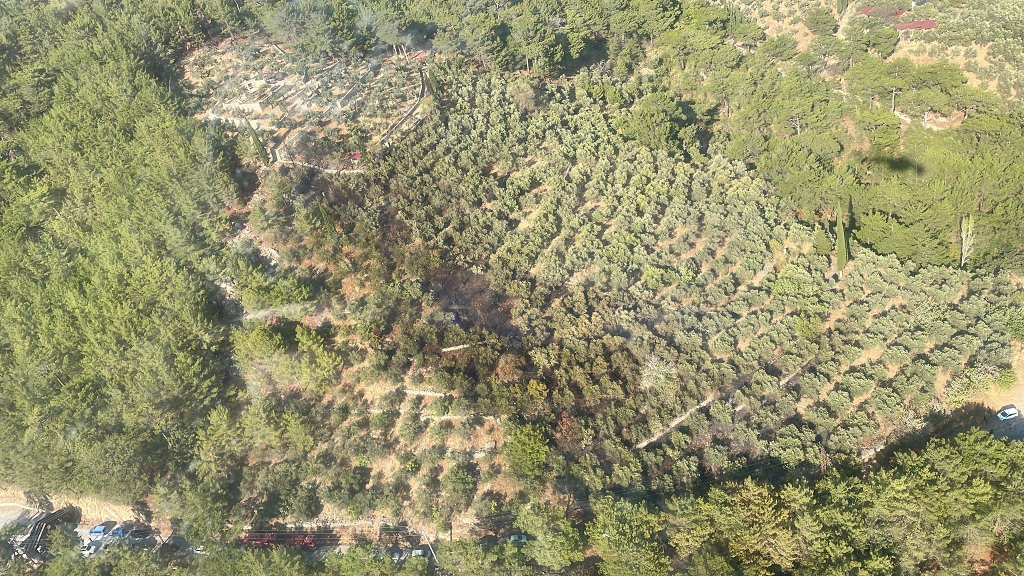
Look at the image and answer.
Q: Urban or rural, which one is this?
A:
rural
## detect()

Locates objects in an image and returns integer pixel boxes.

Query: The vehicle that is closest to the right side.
[995,407,1021,422]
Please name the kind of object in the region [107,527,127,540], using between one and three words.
vehicle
